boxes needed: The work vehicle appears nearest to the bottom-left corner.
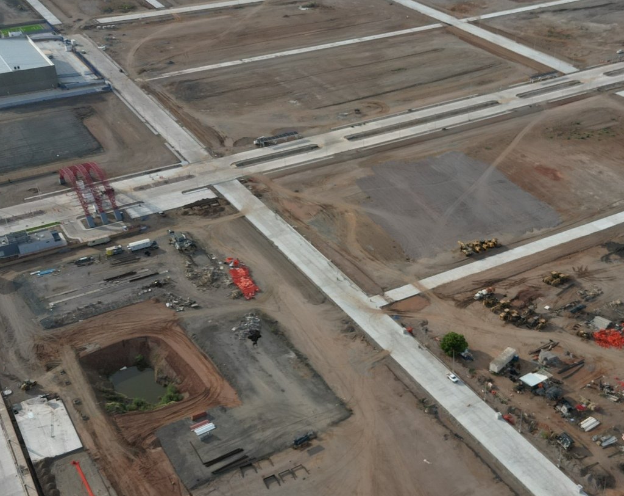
[17,377,38,391]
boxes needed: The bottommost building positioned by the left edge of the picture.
[0,223,65,254]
